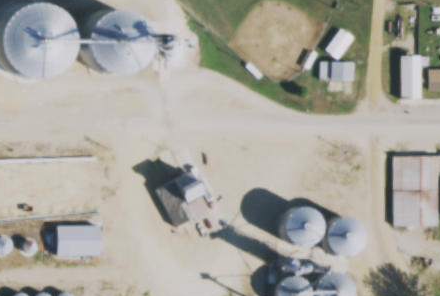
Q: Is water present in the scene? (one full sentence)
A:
No, there is no water in the image.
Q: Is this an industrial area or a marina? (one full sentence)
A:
This image shows an industrial area.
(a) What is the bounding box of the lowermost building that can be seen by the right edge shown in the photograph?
[391,156,440,226]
